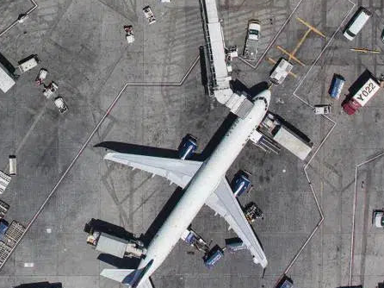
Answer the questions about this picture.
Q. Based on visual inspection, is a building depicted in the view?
No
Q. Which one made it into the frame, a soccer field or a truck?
truck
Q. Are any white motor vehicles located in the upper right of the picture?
Yes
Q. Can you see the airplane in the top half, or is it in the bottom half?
bottom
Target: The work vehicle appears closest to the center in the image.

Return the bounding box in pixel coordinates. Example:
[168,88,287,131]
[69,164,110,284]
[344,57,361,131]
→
[253,130,282,154]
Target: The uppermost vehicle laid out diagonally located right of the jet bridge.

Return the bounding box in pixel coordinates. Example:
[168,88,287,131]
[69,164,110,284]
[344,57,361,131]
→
[345,4,372,39]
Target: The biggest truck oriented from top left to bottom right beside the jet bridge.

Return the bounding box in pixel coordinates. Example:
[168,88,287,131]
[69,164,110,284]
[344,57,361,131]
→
[265,114,316,158]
